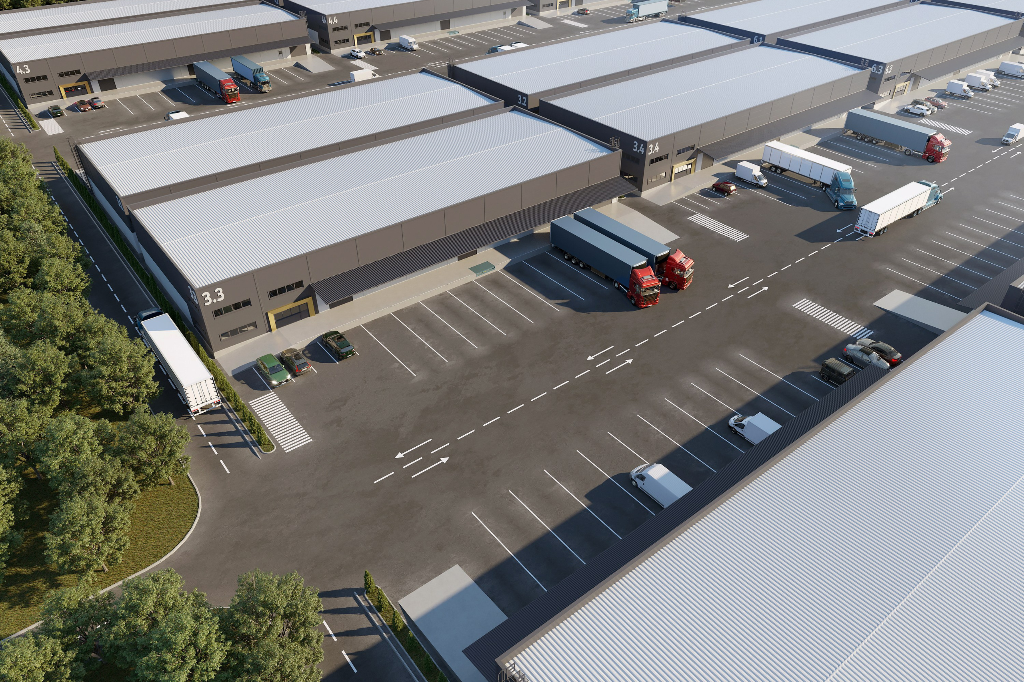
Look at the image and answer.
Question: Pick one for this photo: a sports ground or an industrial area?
industrial area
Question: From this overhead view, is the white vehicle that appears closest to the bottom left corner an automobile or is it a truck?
truck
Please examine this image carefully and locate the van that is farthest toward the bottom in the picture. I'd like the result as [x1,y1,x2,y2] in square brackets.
[629,464,692,508]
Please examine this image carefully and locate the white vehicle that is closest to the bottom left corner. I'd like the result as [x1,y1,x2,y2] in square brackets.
[137,306,221,415]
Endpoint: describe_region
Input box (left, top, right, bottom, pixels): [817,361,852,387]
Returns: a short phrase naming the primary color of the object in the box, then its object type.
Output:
black car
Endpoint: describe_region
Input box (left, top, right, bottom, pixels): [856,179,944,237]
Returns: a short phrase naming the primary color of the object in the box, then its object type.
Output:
white truck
